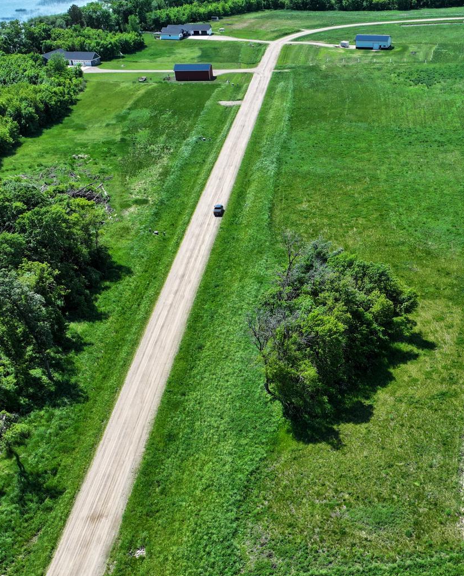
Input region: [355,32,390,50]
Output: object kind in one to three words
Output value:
shed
